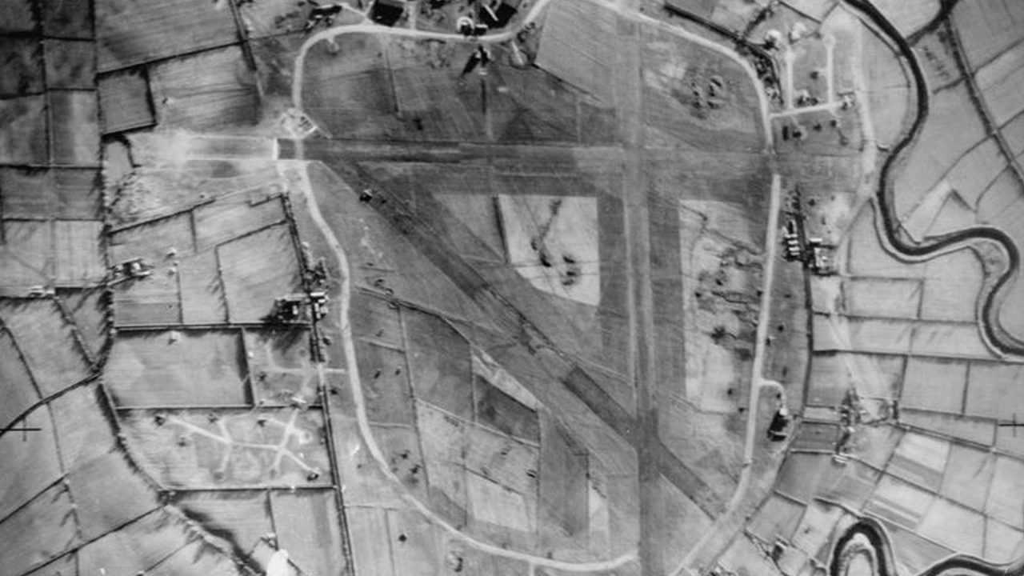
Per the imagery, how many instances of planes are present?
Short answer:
none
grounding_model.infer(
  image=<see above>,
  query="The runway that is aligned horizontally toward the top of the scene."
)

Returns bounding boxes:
[279,139,771,172]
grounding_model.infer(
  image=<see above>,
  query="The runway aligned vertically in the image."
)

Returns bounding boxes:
[615,15,663,576]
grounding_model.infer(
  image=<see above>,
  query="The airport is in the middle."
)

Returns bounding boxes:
[169,0,852,576]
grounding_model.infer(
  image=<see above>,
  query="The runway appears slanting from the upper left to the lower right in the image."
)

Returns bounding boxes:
[322,145,725,520]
